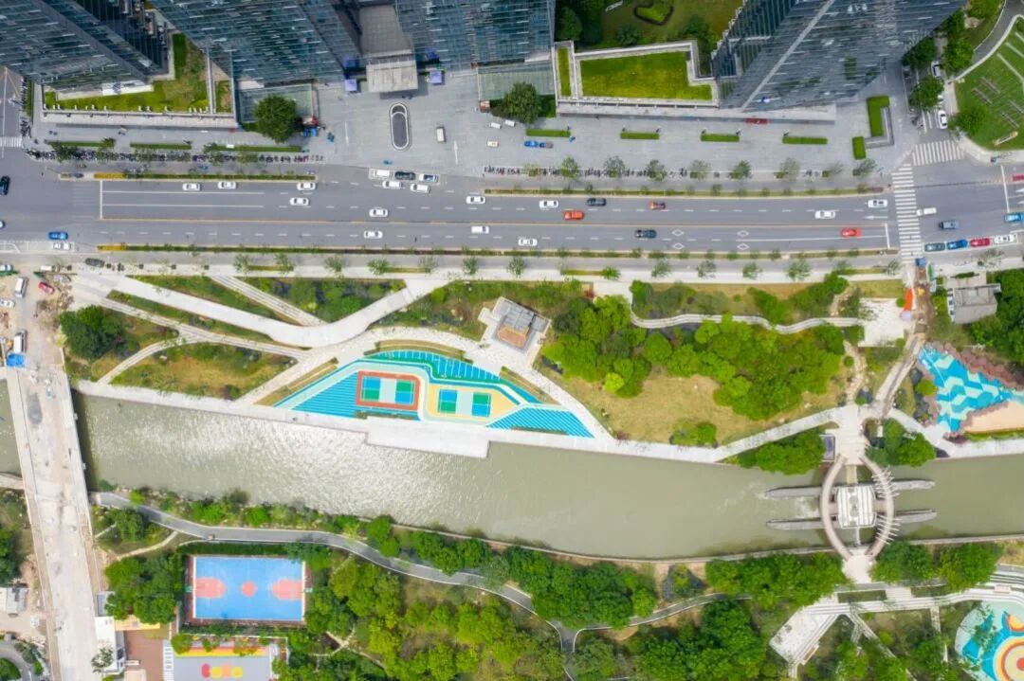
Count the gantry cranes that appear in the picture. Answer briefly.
0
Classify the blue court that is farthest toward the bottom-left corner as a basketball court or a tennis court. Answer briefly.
basketball court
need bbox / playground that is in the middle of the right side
[919,347,1024,433]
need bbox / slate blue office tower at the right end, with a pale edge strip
[710,0,976,109]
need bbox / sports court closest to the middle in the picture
[438,389,491,417]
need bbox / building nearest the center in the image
[491,299,550,354]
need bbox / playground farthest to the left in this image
[174,643,270,681]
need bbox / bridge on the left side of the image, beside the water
[2,359,114,681]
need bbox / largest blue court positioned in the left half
[185,554,306,625]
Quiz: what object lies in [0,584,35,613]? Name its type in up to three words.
shed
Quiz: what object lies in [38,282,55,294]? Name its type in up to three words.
vehicle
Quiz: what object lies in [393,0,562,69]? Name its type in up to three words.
building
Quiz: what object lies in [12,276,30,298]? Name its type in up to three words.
vehicle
